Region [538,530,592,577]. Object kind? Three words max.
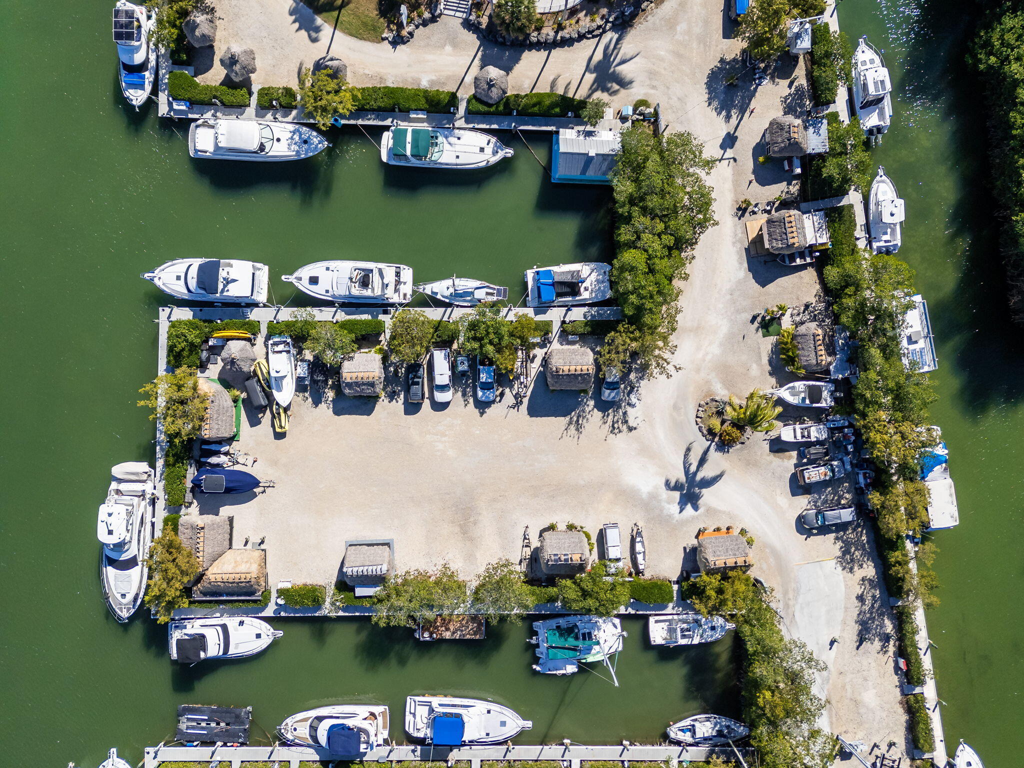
shed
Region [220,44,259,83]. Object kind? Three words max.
umbrella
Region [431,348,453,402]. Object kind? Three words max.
truck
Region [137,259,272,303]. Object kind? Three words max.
boat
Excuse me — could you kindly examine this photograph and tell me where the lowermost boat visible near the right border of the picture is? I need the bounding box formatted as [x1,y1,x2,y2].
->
[947,736,980,768]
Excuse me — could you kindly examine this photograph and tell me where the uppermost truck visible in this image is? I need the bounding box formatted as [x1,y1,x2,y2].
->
[728,0,752,22]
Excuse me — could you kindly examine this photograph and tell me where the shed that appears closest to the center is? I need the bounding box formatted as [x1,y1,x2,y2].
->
[545,346,597,392]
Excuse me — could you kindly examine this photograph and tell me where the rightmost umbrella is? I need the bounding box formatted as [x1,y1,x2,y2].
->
[471,67,510,105]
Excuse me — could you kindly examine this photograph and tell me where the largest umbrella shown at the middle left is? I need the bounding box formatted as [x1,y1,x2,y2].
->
[222,336,258,377]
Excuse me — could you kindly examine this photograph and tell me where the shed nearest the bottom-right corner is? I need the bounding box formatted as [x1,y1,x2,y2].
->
[694,532,754,575]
